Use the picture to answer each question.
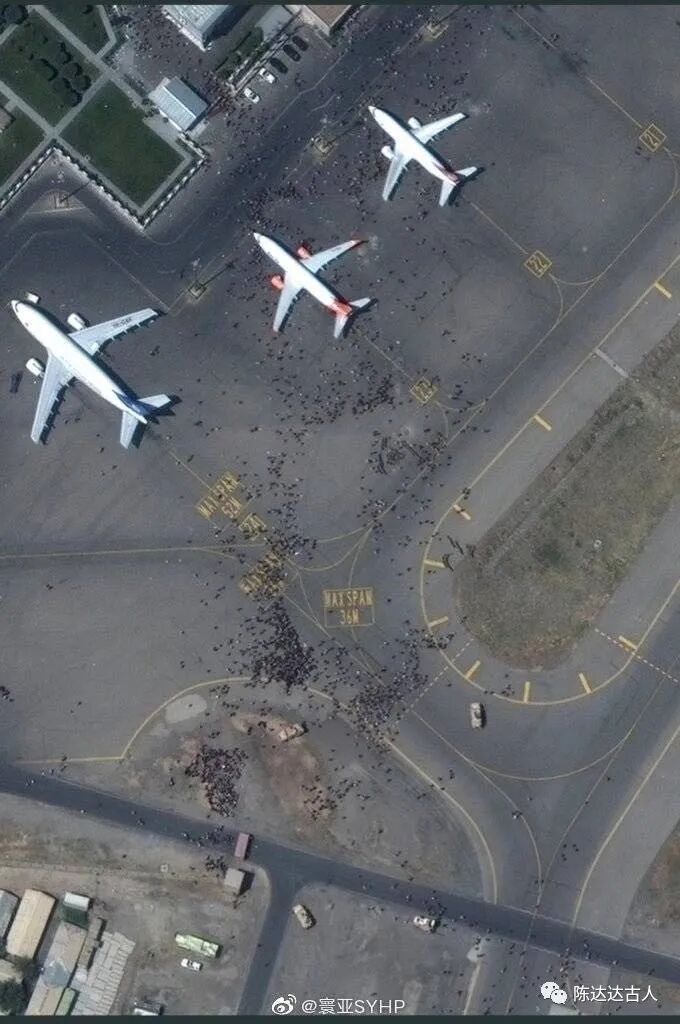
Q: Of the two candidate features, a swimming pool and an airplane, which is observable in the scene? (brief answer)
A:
airplane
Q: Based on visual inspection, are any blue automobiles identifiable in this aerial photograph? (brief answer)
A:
No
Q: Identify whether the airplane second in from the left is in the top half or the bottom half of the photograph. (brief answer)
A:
top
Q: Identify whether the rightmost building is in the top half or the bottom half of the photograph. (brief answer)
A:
top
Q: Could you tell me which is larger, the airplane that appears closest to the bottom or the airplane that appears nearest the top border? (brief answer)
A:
the airplane that appears closest to the bottom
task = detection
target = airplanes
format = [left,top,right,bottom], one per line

[254,234,372,337]
[368,106,480,207]
[12,300,170,449]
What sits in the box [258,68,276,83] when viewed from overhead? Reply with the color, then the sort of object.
white car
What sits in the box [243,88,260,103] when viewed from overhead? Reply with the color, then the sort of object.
white car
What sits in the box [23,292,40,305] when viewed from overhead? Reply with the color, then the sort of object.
white vehicle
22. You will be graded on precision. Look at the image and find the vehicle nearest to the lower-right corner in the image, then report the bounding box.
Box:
[412,916,437,931]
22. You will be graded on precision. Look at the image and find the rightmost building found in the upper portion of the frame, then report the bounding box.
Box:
[305,0,365,35]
